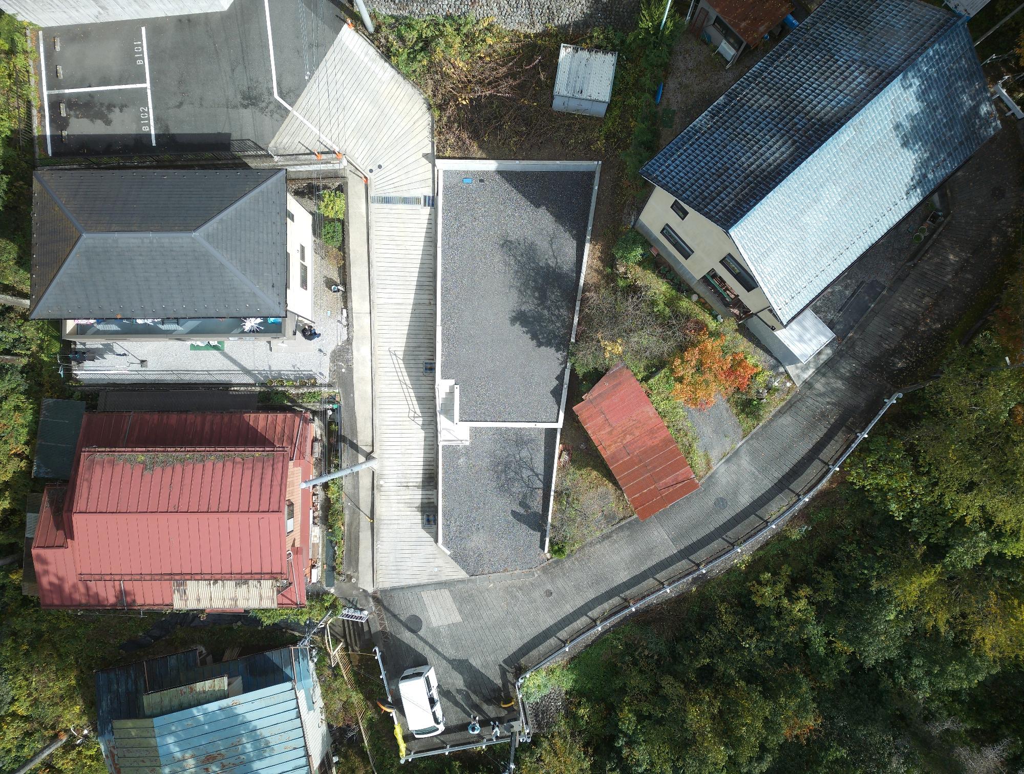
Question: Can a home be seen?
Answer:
Yes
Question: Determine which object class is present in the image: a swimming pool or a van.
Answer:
van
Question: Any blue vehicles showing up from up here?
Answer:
No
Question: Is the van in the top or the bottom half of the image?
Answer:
bottom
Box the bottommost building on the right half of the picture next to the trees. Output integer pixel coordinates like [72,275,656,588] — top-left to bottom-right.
[572,361,701,521]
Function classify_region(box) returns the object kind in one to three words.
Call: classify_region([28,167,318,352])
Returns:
house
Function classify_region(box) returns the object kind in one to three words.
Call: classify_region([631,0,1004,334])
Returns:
house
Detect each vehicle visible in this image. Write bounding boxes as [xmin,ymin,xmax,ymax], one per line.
[403,671,445,743]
